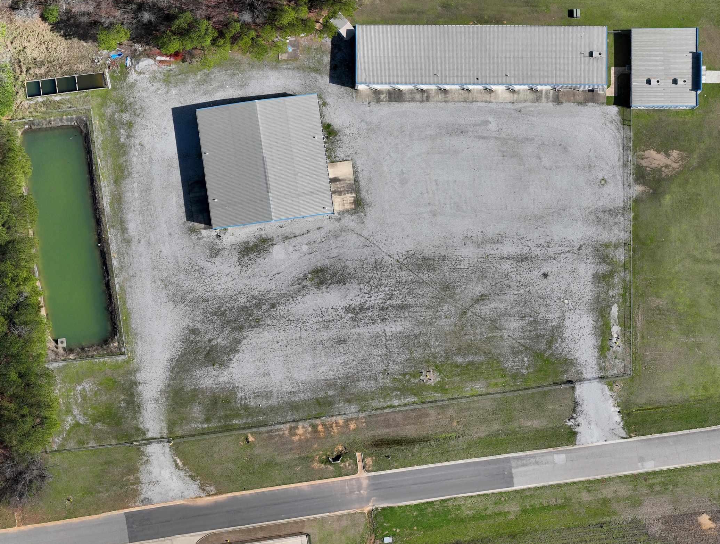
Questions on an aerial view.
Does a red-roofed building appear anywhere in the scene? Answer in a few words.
No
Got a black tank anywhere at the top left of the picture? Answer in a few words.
No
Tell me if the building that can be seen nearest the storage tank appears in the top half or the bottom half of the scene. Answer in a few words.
top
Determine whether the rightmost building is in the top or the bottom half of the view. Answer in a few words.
top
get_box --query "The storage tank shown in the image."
[25,70,110,98]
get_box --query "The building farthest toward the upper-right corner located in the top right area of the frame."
[629,27,706,113]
